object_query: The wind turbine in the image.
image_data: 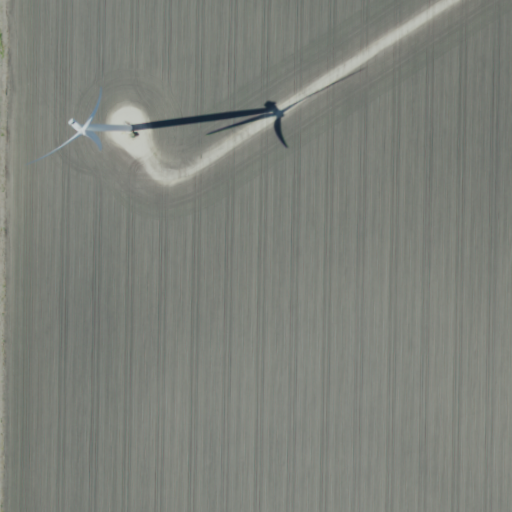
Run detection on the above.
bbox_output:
[28,88,136,164]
